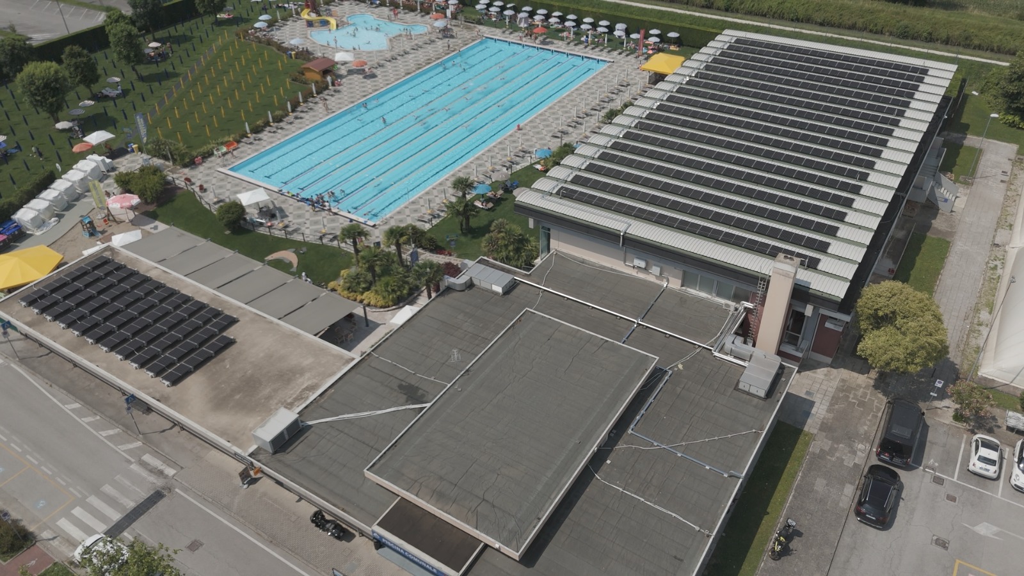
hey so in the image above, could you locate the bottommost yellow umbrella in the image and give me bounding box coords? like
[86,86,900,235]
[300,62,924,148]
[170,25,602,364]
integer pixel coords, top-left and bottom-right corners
[0,242,58,289]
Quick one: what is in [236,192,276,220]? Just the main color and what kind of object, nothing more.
white gazebo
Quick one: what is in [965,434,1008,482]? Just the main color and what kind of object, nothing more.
white car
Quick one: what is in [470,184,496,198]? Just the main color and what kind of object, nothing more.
blue umbrella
